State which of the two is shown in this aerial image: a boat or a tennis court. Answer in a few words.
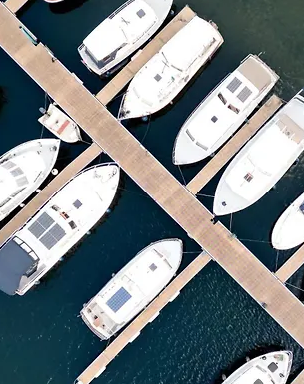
boat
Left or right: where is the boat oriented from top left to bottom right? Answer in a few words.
left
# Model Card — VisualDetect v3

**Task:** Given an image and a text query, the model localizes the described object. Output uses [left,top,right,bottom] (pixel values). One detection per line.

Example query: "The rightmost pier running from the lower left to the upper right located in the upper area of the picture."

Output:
[185,94,284,197]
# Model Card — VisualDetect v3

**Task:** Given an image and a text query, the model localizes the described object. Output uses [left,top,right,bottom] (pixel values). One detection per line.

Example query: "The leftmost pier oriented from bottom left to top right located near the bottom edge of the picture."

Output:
[77,247,218,384]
